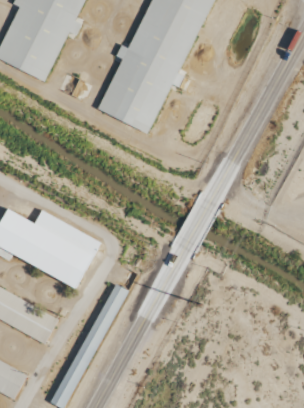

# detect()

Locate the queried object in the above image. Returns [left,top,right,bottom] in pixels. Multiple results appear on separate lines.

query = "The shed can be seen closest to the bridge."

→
[52,286,128,408]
